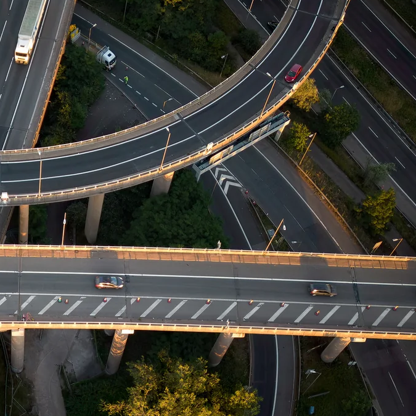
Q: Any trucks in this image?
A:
Yes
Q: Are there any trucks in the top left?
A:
Yes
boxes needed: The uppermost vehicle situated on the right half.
[267,14,282,30]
